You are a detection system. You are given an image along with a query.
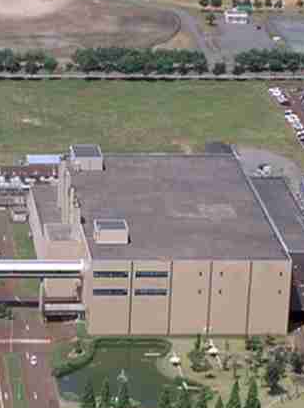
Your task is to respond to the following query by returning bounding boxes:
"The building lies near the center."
[28,143,293,334]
